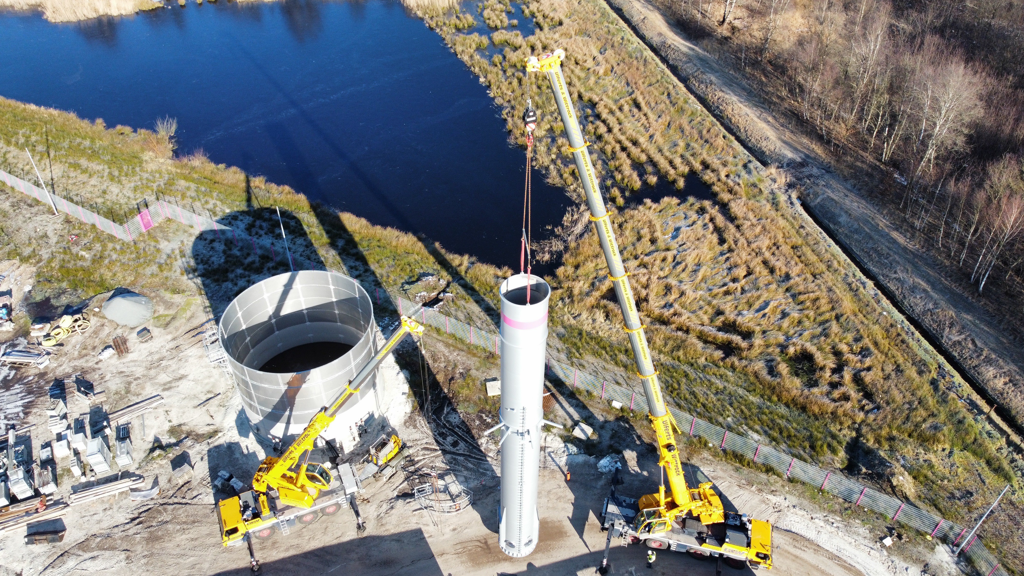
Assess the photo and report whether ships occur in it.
No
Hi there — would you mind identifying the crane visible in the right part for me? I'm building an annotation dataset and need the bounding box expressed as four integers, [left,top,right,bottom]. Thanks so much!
[524,51,784,576]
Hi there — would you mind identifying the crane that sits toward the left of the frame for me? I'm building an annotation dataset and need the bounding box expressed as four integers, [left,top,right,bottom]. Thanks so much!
[208,322,436,575]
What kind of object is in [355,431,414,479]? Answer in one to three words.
trailer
